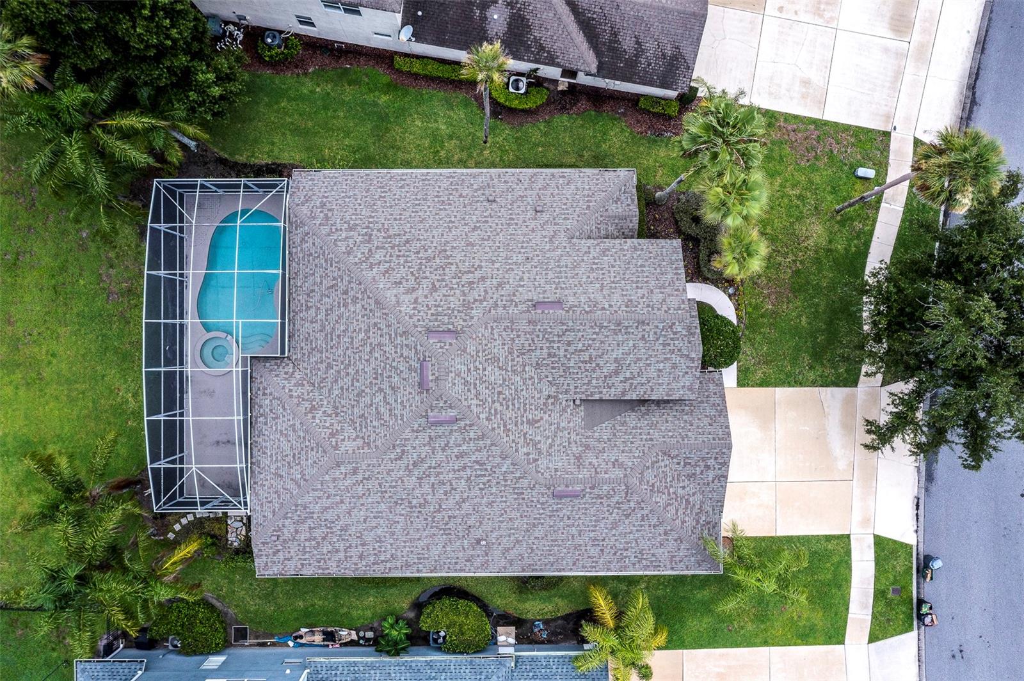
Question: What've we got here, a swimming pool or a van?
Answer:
swimming pool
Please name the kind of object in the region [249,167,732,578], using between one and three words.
house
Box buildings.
[199,0,709,99]
[73,638,609,681]
[249,167,732,578]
